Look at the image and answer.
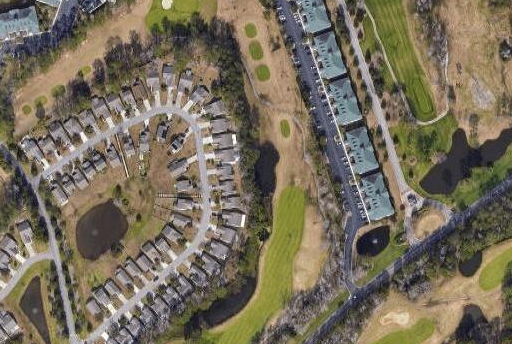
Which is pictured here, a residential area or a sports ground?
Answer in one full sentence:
This looks like a residential area.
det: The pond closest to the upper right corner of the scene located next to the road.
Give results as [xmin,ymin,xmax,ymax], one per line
[420,128,512,196]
